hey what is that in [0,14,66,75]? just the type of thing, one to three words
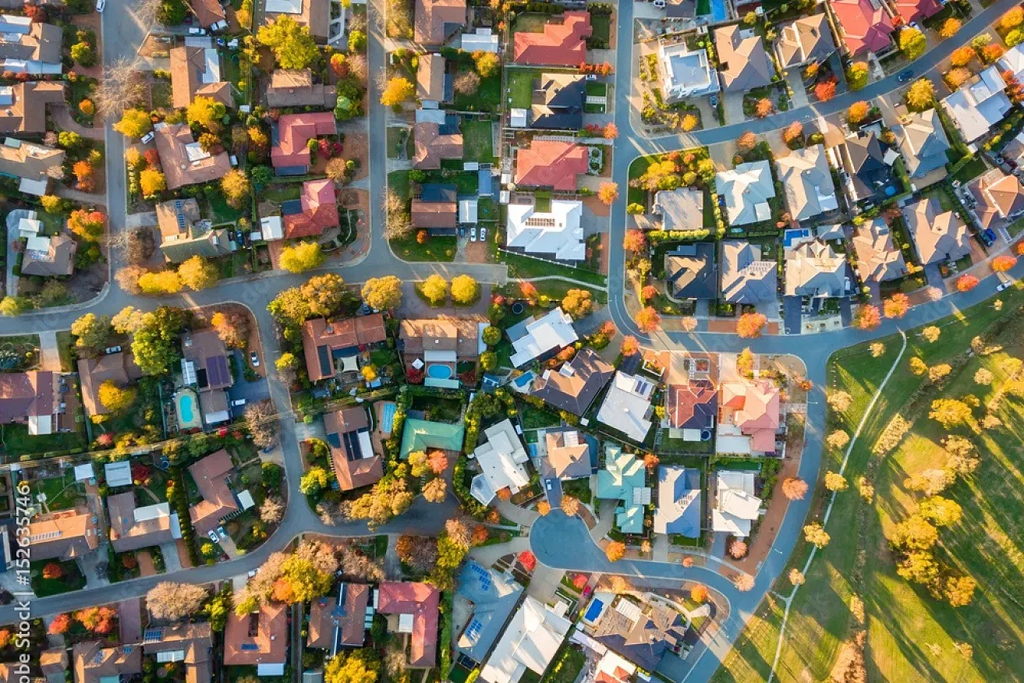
house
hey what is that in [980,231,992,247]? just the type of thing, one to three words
vehicle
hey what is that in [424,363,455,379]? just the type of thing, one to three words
swimming pool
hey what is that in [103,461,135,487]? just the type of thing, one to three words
shed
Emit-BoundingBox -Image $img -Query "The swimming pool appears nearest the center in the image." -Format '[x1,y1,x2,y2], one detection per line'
[511,370,536,395]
